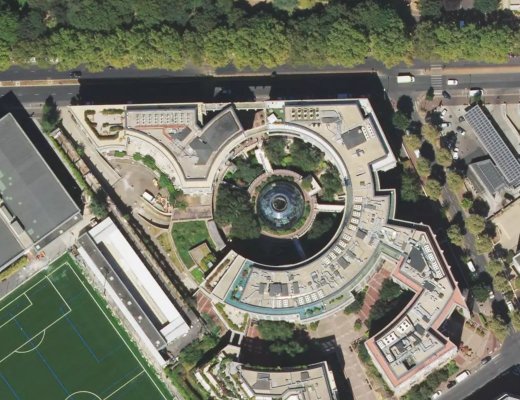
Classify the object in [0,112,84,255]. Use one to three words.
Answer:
building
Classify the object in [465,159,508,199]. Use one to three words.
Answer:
building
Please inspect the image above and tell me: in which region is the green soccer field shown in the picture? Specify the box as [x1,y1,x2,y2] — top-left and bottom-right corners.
[0,251,172,400]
